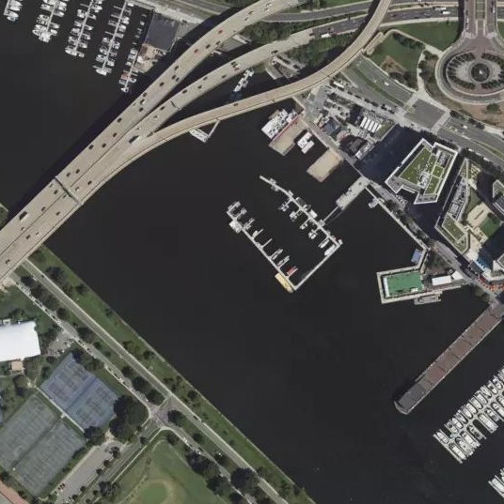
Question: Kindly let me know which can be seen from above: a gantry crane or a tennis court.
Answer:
tennis court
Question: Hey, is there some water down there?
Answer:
Yes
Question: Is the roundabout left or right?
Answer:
right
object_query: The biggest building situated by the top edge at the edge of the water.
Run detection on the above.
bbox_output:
[145,13,180,51]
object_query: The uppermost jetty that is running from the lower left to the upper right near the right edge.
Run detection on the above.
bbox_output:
[385,303,503,417]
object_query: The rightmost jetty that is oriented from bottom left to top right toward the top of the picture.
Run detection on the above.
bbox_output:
[336,177,373,208]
